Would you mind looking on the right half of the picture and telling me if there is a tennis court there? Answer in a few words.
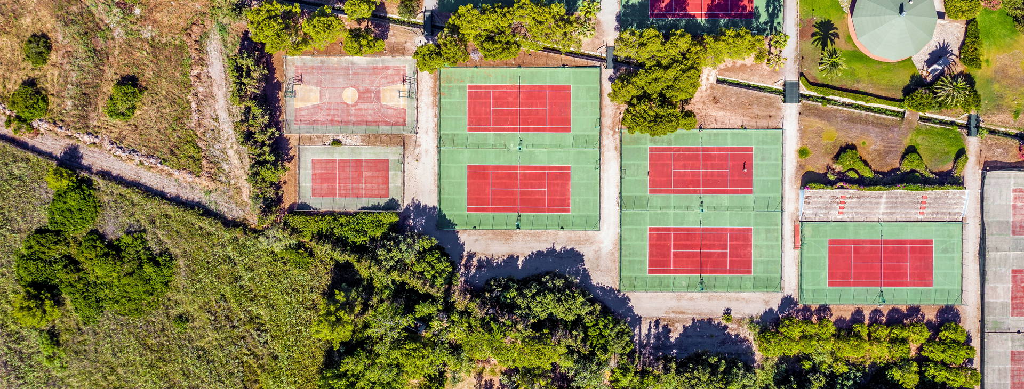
Yes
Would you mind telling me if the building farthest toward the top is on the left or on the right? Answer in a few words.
right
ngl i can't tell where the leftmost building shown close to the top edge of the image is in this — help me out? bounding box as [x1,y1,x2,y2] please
[845,0,937,63]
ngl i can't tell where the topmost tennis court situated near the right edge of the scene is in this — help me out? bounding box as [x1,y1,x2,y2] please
[982,170,1024,253]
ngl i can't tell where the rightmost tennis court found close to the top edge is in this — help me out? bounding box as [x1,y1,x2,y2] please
[621,0,784,36]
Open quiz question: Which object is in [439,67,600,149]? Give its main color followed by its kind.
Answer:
green tennis court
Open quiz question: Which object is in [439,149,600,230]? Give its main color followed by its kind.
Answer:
green tennis court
